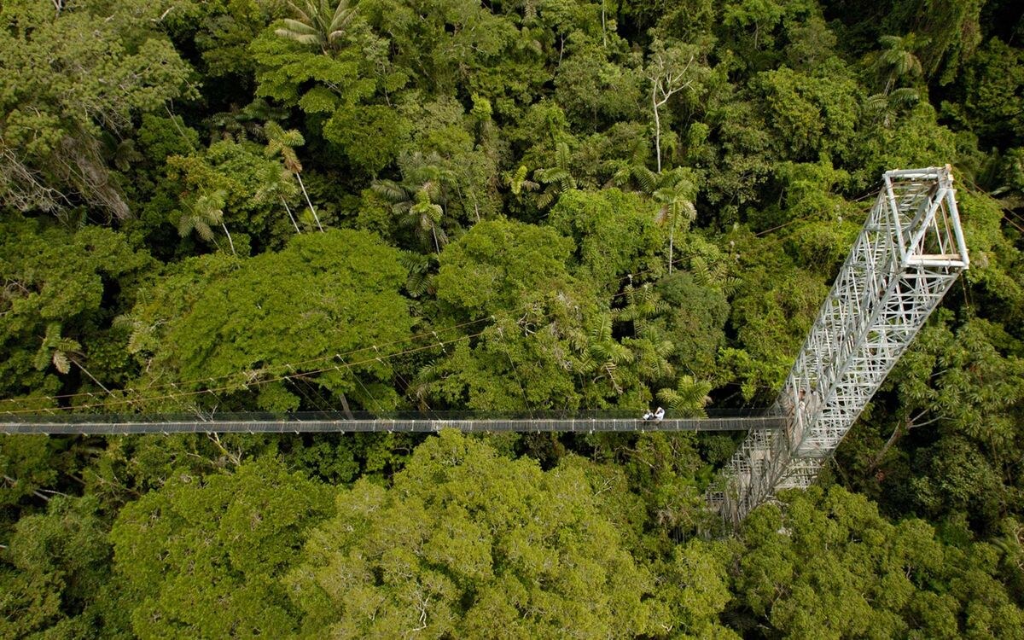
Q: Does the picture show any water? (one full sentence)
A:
No, there's no water in this view.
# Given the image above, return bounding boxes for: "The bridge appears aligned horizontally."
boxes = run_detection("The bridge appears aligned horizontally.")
[0,162,1022,436]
